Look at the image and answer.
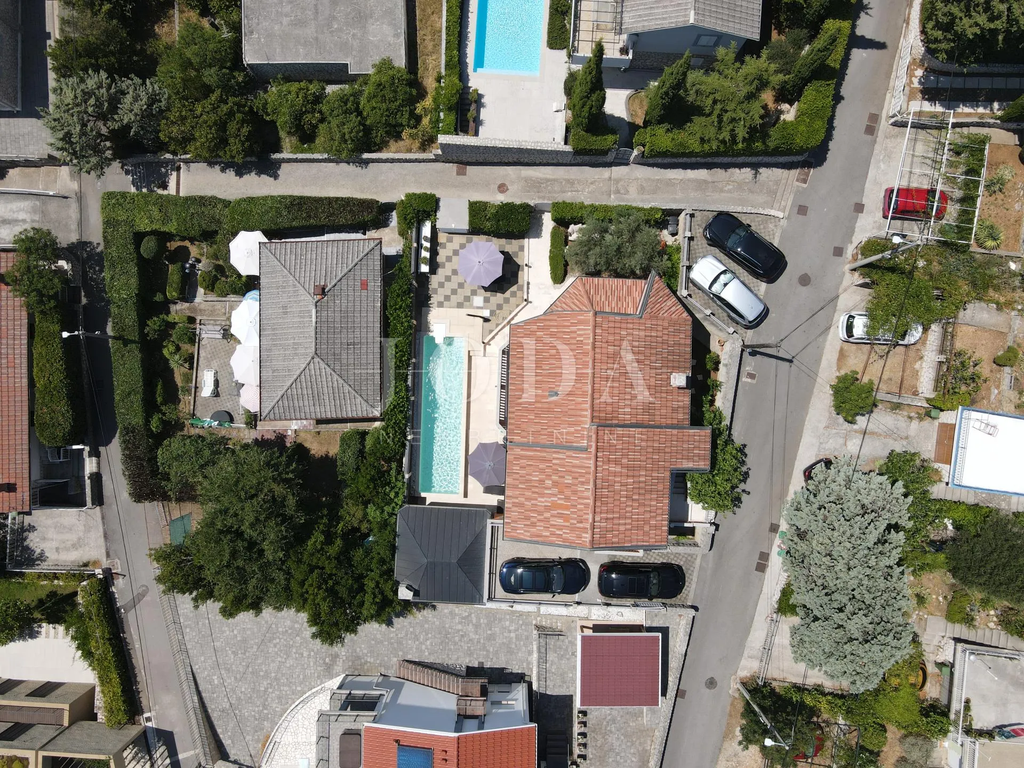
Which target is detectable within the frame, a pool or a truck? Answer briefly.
pool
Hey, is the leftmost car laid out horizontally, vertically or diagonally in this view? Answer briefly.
horizontally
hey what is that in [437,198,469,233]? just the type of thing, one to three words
shed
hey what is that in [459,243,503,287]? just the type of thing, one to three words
umbrella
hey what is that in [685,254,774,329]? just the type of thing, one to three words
car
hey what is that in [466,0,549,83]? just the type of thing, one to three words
swimming pool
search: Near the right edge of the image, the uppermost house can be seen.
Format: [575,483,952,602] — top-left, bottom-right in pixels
[926,405,1024,498]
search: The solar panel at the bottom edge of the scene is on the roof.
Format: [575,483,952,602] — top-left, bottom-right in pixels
[398,744,433,768]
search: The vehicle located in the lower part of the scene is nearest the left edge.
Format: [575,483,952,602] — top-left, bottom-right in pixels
[500,556,590,600]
